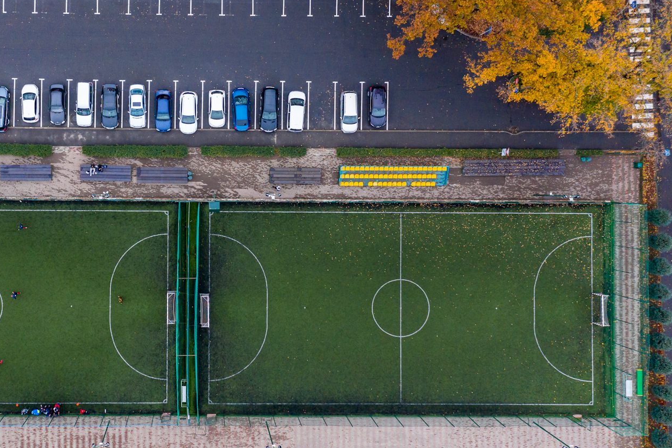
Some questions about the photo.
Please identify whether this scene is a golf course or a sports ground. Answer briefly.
sports ground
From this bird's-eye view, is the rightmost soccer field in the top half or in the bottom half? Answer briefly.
bottom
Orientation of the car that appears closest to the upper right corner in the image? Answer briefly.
from top to bottom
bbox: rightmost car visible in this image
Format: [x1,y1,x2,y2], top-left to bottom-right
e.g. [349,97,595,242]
[366,86,388,128]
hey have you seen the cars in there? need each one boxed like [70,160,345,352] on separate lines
[99,84,121,130]
[153,90,174,133]
[19,84,41,123]
[230,88,253,132]
[46,84,67,126]
[339,91,361,134]
[177,91,199,134]
[366,86,388,128]
[286,91,308,133]
[0,86,12,133]
[206,90,227,128]
[127,84,148,129]
[259,87,281,133]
